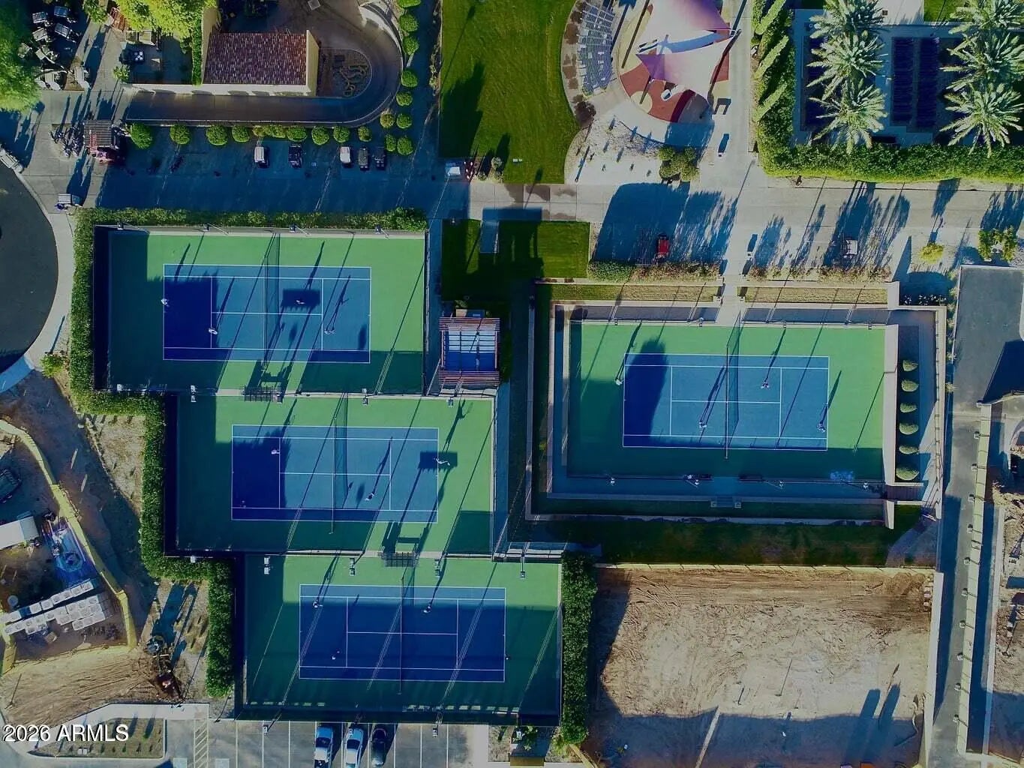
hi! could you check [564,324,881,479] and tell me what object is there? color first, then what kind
blue tennis court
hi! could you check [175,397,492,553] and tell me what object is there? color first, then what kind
blue tennis court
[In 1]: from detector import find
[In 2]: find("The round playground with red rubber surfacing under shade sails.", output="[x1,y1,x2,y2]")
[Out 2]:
[617,0,739,123]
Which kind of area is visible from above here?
sports ground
